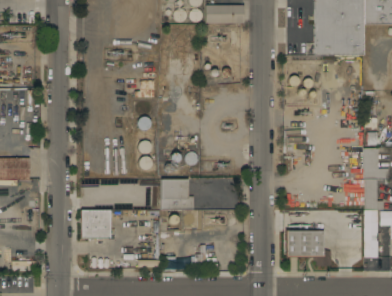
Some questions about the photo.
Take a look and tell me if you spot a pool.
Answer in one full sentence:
No, I can't see a single pool in this photo.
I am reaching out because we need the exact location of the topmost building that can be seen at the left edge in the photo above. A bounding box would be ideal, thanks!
[0,156,30,180]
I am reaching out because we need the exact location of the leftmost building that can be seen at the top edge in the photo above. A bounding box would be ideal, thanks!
[206,4,244,24]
